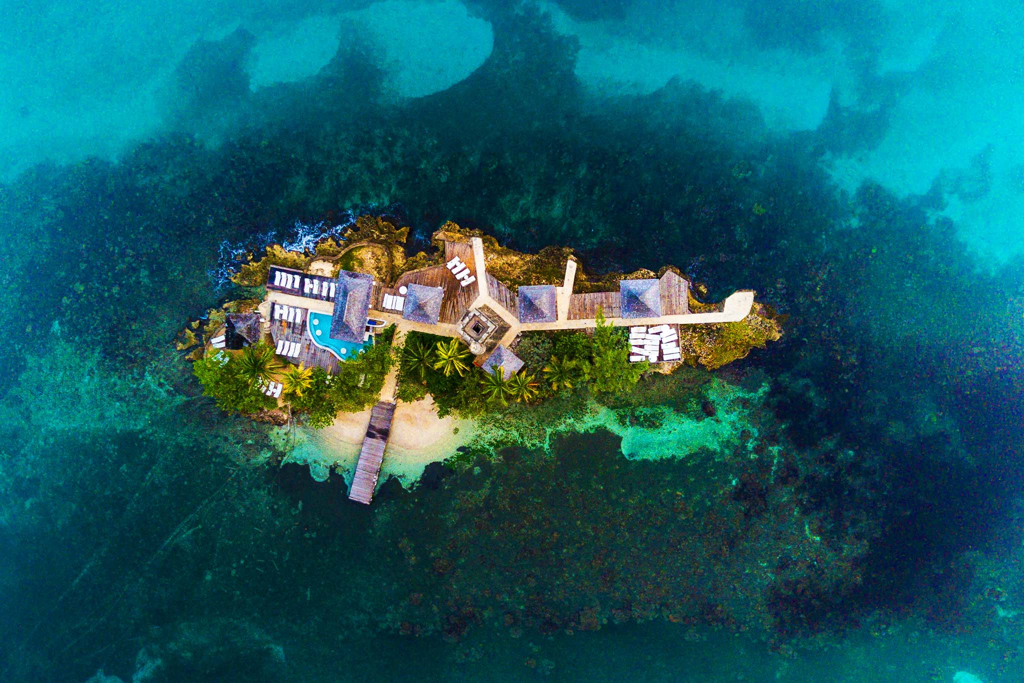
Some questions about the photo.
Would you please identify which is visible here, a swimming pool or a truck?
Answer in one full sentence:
The one in the frame is a swimming pool.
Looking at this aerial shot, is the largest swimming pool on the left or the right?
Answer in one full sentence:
The largest swimming pool sits on the left side.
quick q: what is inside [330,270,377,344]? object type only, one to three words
building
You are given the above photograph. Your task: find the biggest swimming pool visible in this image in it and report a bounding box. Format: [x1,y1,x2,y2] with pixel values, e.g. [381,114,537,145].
[307,310,378,363]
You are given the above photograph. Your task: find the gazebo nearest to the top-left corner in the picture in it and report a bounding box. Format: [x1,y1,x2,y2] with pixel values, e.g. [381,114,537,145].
[225,313,264,349]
